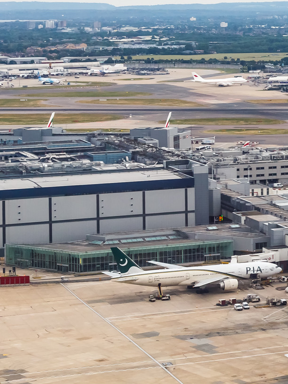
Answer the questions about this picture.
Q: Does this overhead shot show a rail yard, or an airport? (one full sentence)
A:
This looks like an airport.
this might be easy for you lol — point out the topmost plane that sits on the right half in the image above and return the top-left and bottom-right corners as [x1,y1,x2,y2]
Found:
[190,70,247,85]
